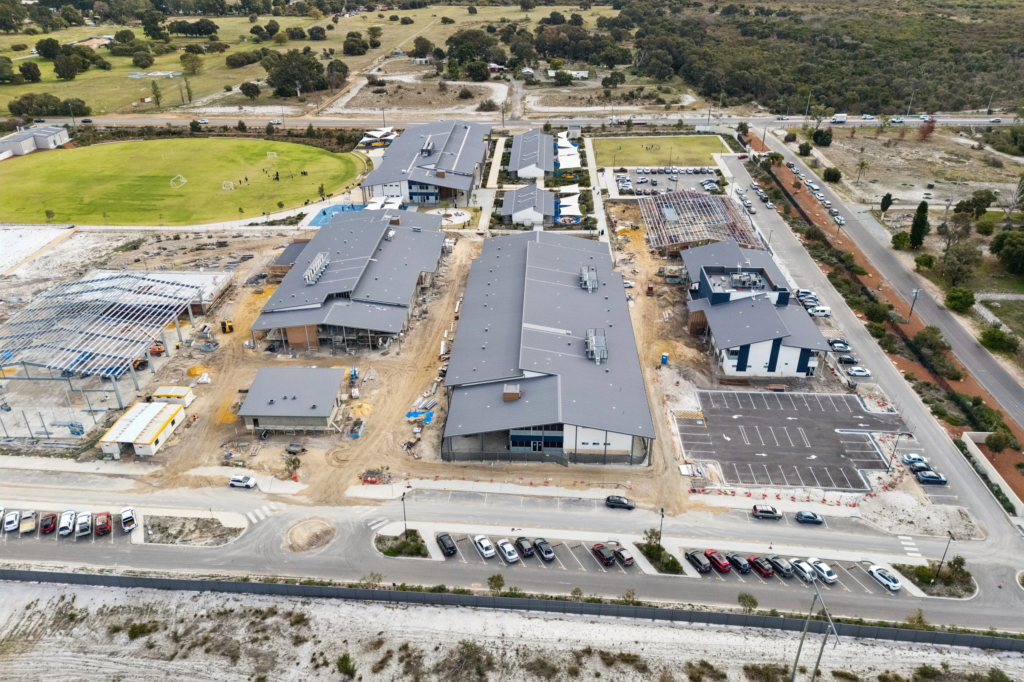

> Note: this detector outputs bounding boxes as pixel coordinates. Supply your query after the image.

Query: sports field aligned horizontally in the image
[0,138,365,226]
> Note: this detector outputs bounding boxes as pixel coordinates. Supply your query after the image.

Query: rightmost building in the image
[679,241,833,372]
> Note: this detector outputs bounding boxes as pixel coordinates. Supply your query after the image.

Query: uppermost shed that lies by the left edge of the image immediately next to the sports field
[0,113,69,155]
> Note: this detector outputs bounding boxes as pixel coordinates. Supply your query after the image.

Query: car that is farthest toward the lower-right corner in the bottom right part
[870,565,903,592]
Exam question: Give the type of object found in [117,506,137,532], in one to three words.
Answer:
vehicle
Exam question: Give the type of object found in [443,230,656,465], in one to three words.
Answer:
building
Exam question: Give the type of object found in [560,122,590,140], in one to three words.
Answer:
building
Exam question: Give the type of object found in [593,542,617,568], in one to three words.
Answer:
car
